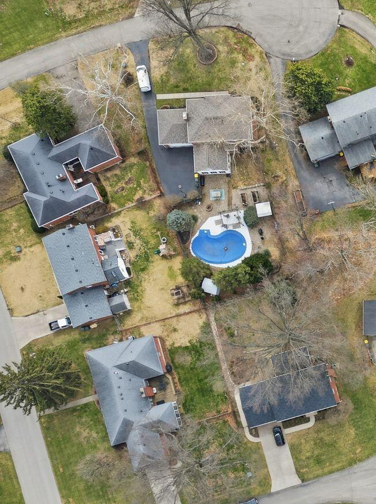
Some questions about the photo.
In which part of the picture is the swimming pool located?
center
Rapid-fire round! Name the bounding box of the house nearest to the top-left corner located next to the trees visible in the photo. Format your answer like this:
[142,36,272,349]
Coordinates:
[8,124,119,228]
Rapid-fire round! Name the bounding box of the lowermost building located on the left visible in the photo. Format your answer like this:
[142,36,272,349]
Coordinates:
[85,336,190,472]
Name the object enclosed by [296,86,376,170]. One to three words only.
house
